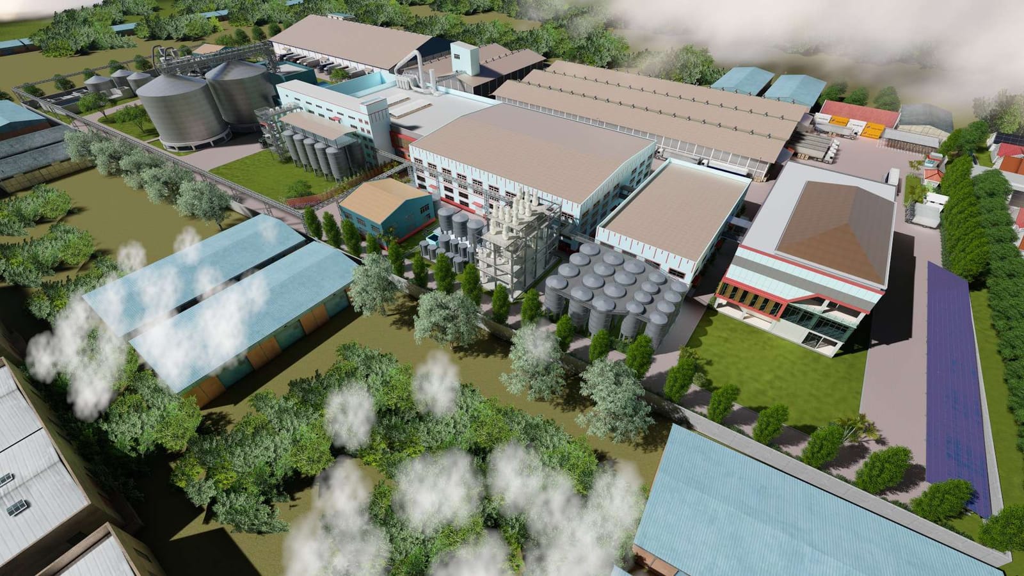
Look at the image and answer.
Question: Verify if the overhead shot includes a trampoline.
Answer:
No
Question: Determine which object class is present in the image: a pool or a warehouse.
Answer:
warehouse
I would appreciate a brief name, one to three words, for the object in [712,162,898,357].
building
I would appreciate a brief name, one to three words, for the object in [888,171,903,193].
vehicle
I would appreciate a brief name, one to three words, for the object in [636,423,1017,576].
shed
